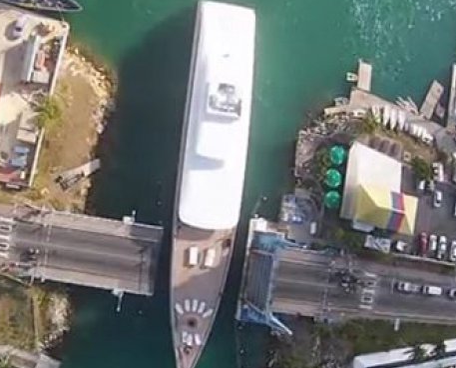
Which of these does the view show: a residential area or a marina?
marina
